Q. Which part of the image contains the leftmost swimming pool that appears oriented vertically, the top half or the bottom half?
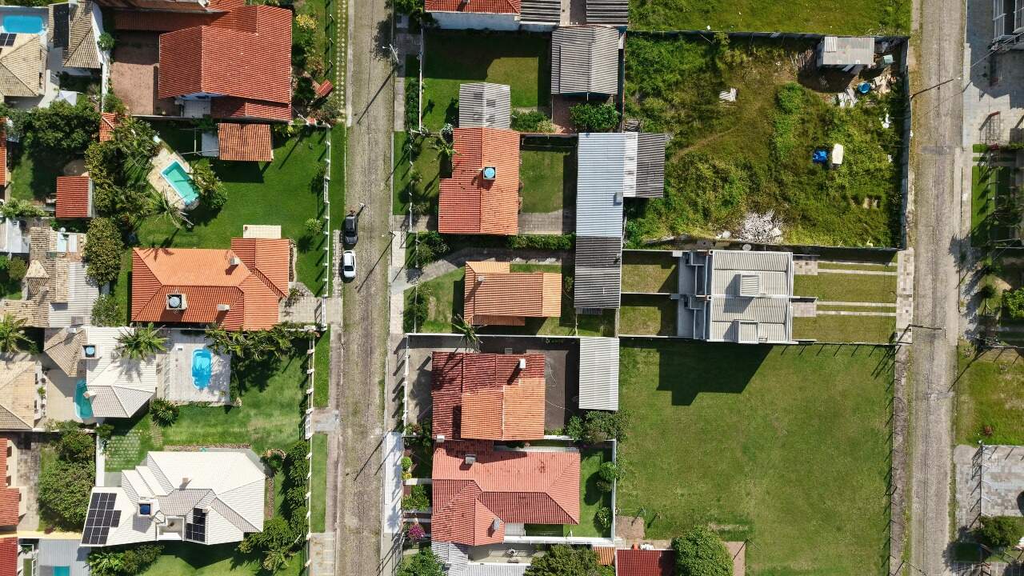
bottom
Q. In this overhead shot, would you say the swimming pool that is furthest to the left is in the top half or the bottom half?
top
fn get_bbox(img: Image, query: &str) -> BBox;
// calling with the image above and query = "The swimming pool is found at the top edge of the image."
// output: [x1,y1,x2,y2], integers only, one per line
[0,12,44,35]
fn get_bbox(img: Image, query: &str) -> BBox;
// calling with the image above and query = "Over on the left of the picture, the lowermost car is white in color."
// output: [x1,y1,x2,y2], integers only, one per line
[340,250,356,278]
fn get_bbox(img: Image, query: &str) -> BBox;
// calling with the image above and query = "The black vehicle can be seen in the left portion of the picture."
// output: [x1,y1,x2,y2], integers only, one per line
[342,214,357,243]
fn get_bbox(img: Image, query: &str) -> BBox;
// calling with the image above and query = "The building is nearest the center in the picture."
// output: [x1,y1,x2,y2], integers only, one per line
[464,261,562,326]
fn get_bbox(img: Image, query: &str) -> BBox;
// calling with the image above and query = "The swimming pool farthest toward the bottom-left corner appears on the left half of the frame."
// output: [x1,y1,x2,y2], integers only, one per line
[73,378,93,420]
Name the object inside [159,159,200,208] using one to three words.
swimming pool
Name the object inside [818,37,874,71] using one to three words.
shed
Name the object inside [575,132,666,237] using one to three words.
house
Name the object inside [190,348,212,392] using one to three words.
swimming pool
